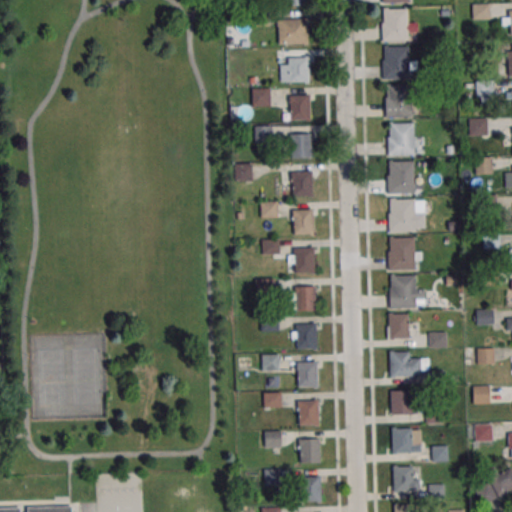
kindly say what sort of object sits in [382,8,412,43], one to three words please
house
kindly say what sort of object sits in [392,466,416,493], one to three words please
house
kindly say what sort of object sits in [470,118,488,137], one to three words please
building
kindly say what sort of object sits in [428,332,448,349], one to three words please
building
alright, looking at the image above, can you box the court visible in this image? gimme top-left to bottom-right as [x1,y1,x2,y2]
[30,333,105,418]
